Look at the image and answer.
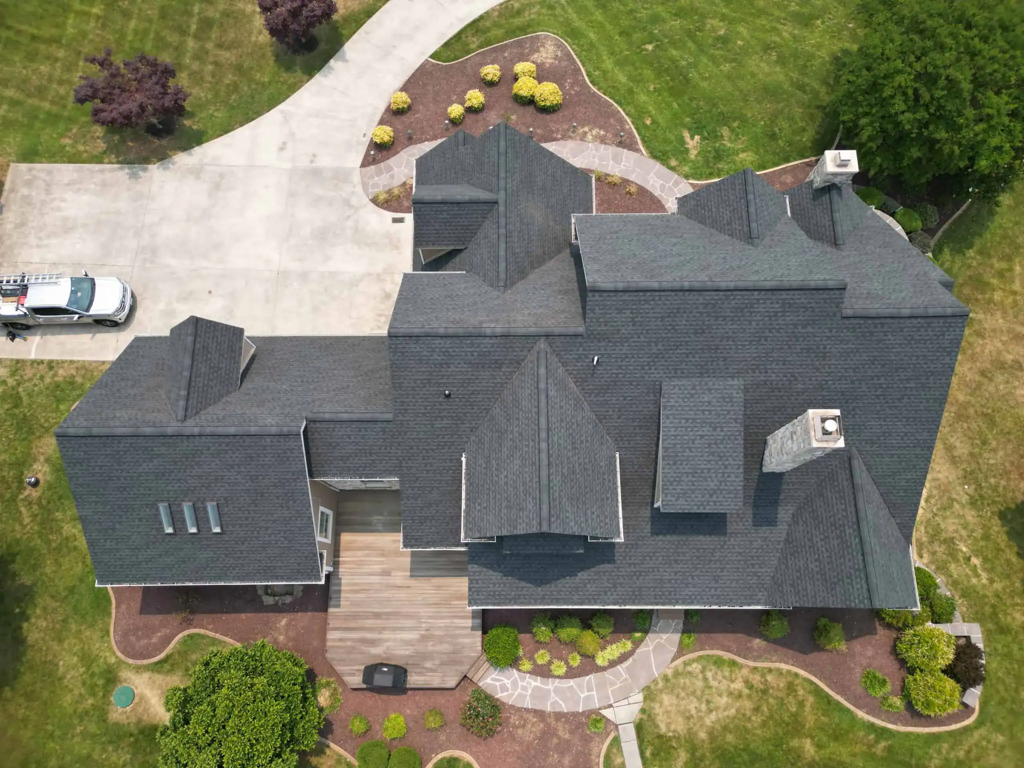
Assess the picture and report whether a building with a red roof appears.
No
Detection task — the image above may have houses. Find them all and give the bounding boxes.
[52,118,972,610]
